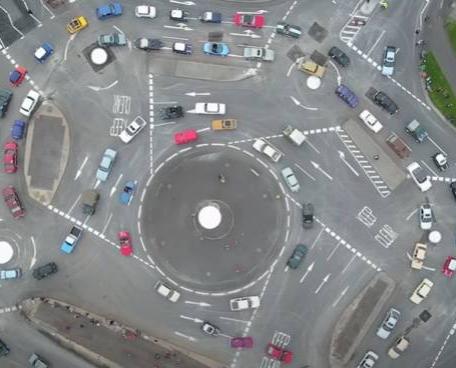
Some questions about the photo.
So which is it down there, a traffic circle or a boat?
traffic circle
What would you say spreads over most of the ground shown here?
paved ground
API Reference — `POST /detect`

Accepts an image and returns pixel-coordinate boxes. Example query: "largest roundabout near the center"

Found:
[138,144,290,296]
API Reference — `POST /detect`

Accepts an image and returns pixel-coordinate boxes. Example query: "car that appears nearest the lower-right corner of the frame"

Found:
[386,335,410,361]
